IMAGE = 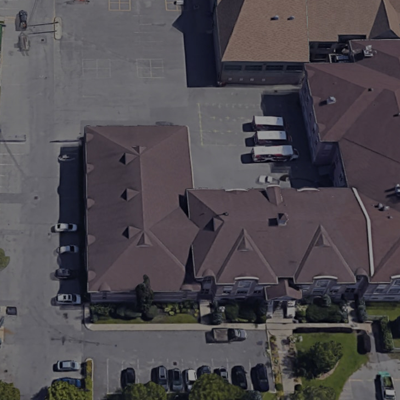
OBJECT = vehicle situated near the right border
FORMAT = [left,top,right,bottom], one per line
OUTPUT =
[375,371,398,400]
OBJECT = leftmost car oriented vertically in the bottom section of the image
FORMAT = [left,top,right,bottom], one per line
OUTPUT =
[121,365,135,392]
